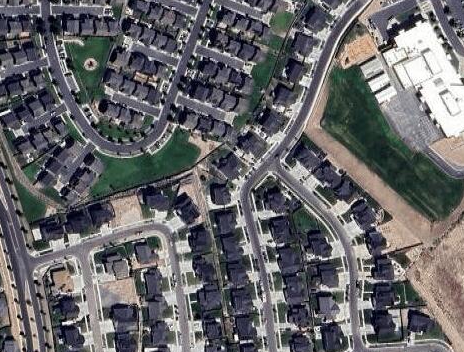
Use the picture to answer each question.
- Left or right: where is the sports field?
right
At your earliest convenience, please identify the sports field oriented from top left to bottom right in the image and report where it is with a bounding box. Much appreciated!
[320,61,464,220]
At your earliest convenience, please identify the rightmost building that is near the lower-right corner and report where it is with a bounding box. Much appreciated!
[407,312,432,333]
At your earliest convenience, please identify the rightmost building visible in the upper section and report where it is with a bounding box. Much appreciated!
[383,20,464,133]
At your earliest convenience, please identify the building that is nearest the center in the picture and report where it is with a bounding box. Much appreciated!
[219,155,242,182]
